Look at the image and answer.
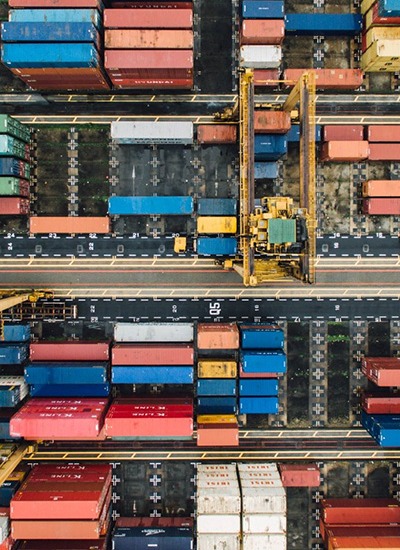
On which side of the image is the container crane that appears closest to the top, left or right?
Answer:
right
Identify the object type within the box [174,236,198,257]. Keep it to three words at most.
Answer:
vehicle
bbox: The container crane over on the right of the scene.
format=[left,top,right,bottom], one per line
[212,70,318,285]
